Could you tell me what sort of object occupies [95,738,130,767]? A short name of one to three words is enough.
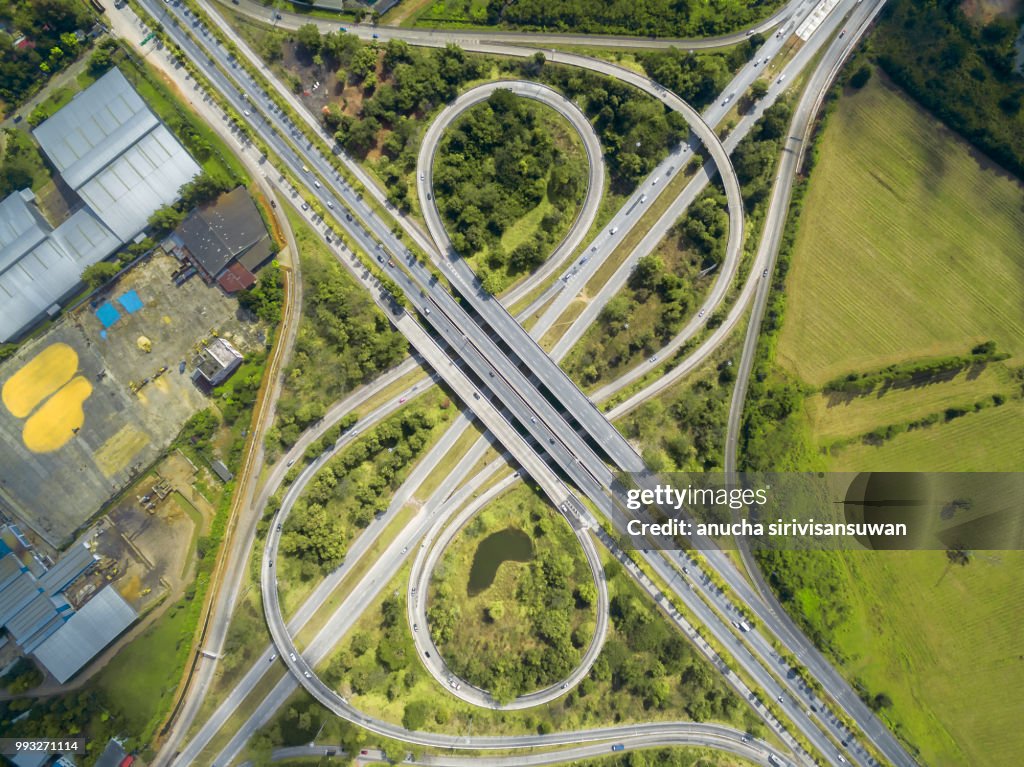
house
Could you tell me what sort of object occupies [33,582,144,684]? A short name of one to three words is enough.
building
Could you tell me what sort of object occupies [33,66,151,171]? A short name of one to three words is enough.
building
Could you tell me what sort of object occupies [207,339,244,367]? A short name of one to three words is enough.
house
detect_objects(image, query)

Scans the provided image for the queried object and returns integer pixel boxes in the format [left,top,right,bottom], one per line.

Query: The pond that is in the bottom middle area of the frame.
[466,527,534,595]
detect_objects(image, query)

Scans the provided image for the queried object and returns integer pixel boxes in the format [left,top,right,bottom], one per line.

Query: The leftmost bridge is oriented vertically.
[260,476,348,709]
